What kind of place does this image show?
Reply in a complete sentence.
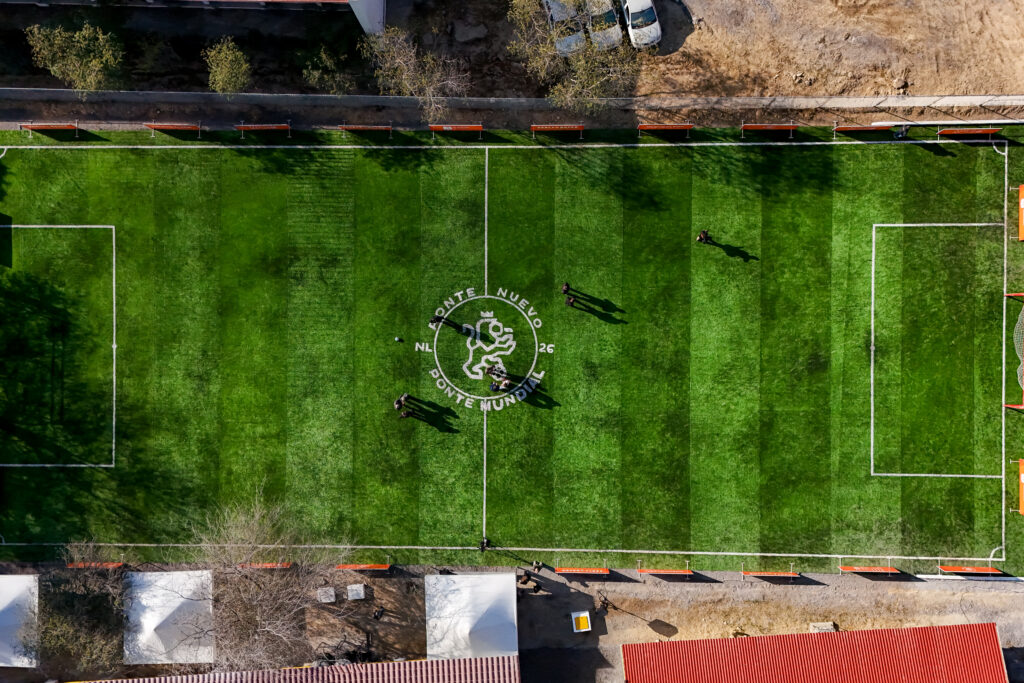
What you see here is a sports ground.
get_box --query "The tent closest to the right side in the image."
[425,559,520,661]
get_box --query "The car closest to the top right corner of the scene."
[620,0,661,51]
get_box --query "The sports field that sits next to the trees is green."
[0,124,1024,577]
